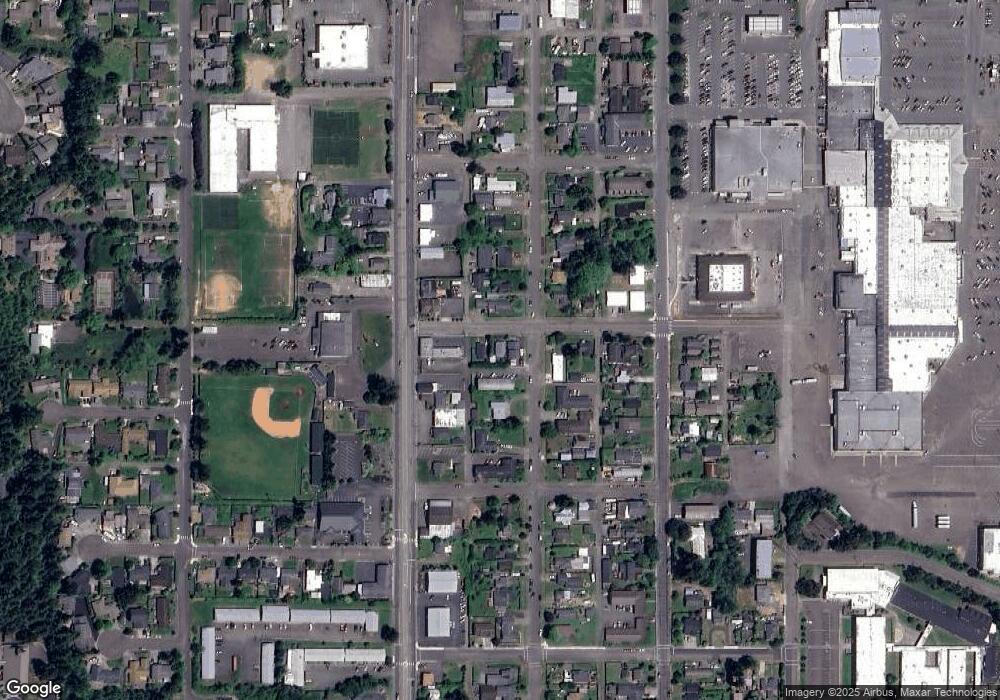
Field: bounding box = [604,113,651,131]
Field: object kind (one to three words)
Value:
building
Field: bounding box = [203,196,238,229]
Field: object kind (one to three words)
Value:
sports field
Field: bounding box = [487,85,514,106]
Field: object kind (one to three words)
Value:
house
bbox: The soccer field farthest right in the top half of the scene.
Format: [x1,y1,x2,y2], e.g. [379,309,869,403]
[311,103,389,180]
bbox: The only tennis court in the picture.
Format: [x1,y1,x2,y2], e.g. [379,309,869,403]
[94,269,115,313]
